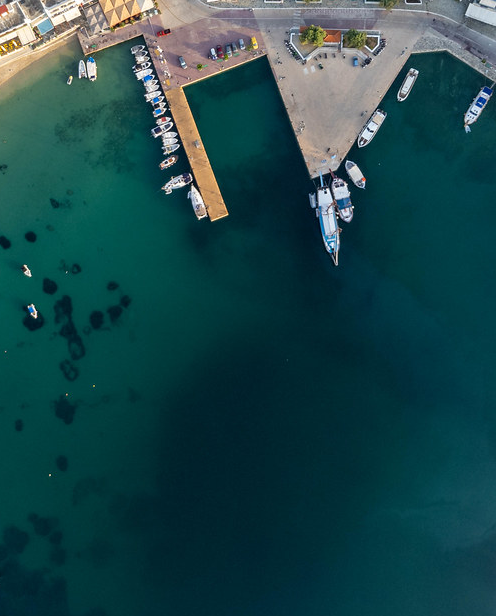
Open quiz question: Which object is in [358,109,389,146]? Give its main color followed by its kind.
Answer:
white boat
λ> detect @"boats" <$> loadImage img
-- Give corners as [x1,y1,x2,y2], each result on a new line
[159,157,177,169]
[87,57,97,82]
[151,124,172,139]
[144,86,159,93]
[143,80,158,88]
[329,168,352,222]
[152,103,166,110]
[155,118,171,125]
[141,75,154,83]
[161,145,179,155]
[192,184,209,221]
[134,57,150,64]
[358,109,389,146]
[466,79,494,125]
[28,302,36,318]
[150,97,164,104]
[161,132,177,139]
[134,70,152,80]
[130,46,145,55]
[79,59,86,80]
[134,51,148,59]
[163,170,194,189]
[346,160,365,189]
[310,193,316,210]
[397,68,419,102]
[133,64,150,72]
[161,138,178,145]
[152,109,166,117]
[144,92,161,101]
[21,264,30,277]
